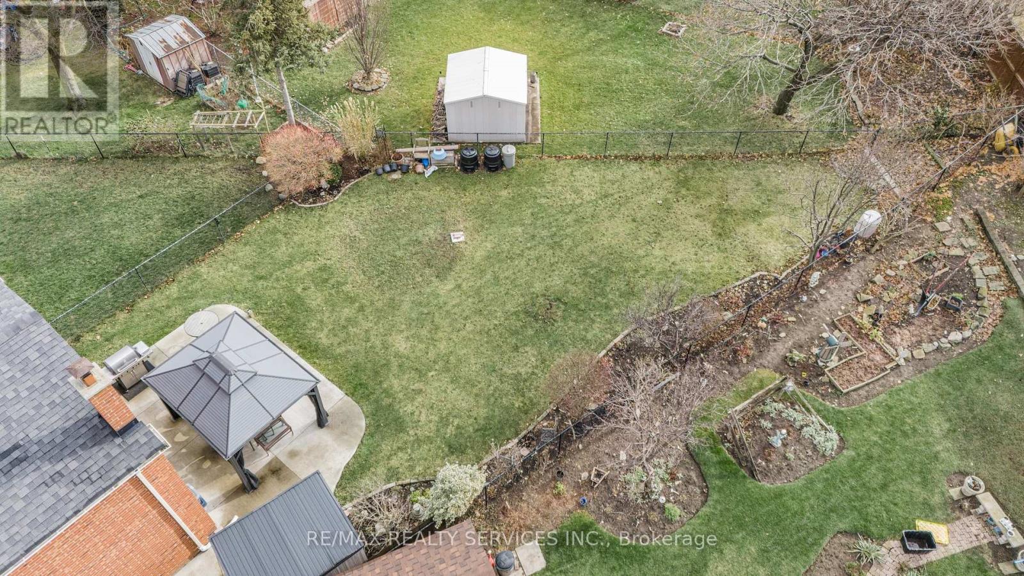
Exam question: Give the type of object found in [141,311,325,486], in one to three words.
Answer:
gazebo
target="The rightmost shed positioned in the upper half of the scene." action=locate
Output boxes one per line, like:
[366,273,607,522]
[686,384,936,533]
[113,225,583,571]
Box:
[443,43,529,141]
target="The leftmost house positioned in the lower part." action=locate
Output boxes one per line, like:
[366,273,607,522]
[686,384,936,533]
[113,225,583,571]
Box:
[0,283,245,576]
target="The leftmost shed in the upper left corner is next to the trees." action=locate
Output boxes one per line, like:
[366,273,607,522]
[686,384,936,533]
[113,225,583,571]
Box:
[126,16,208,93]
